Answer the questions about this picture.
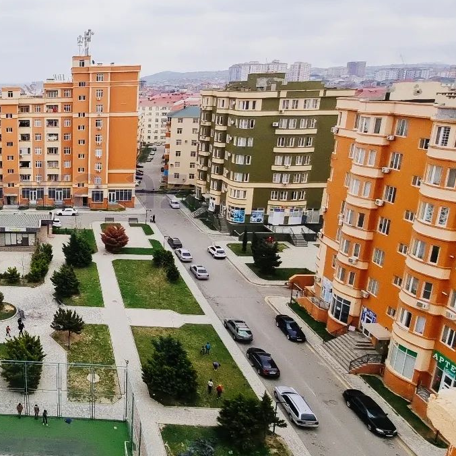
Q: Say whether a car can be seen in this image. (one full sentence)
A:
Yes, a car can be made out from above.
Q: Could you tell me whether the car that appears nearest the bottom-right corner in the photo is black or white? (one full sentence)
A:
The color of the car that appears nearest the bottom-right corner is black.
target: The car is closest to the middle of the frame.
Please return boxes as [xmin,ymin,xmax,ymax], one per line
[206,243,227,256]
